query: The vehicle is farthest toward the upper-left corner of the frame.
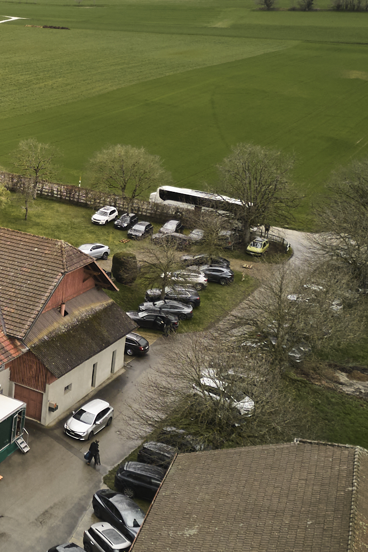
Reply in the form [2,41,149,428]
[92,205,117,227]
